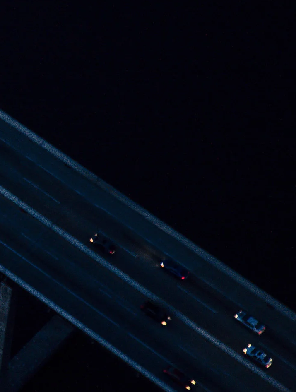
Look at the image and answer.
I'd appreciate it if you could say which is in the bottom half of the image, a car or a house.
car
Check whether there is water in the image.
Yes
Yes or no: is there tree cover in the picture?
No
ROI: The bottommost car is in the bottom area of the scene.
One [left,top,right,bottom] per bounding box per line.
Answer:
[163,364,194,389]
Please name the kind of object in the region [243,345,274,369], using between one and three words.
car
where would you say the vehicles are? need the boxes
[139,299,170,324]
[243,345,274,369]
[234,310,266,335]
[163,364,194,389]
[160,259,190,281]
